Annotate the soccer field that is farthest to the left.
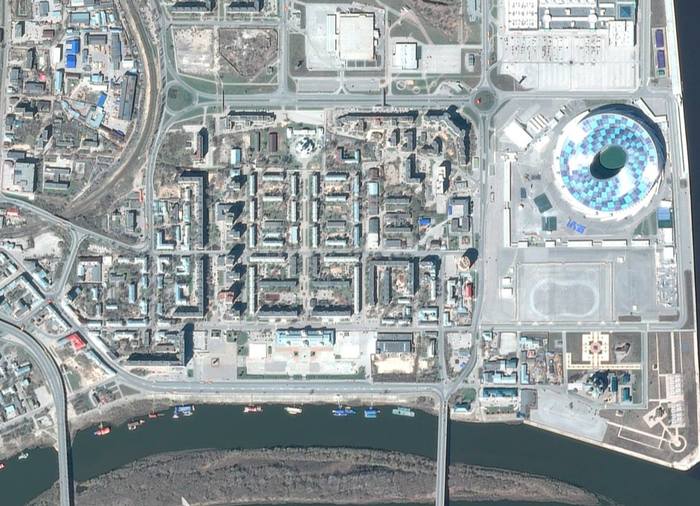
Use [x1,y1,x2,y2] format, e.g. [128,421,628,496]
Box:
[591,142,628,179]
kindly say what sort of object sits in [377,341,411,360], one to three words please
building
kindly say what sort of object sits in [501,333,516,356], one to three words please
building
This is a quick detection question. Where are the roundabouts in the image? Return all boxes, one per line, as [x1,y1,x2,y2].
[470,84,500,116]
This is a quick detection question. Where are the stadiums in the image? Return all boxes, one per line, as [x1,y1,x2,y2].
[550,103,669,221]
